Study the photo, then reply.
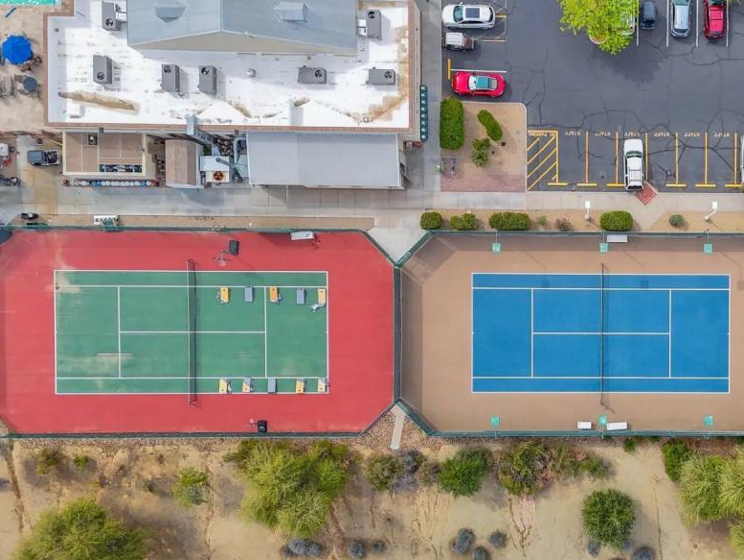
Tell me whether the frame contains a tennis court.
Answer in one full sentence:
Yes, there is a tennis court in the image.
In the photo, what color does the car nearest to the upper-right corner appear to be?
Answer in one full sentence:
The car nearest to the upper-right corner is red.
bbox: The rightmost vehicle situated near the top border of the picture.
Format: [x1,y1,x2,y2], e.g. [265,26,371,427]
[702,0,727,42]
